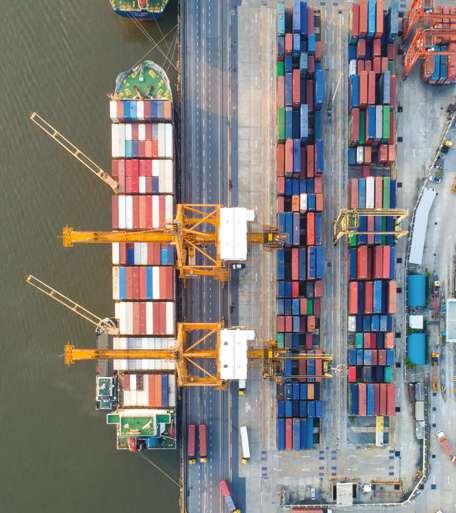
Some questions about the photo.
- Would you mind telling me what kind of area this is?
port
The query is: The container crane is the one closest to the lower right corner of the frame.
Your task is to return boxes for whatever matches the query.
[263,351,334,379]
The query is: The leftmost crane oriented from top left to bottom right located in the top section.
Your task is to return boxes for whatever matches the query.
[31,114,121,196]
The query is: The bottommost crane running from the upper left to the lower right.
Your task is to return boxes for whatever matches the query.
[26,276,119,338]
